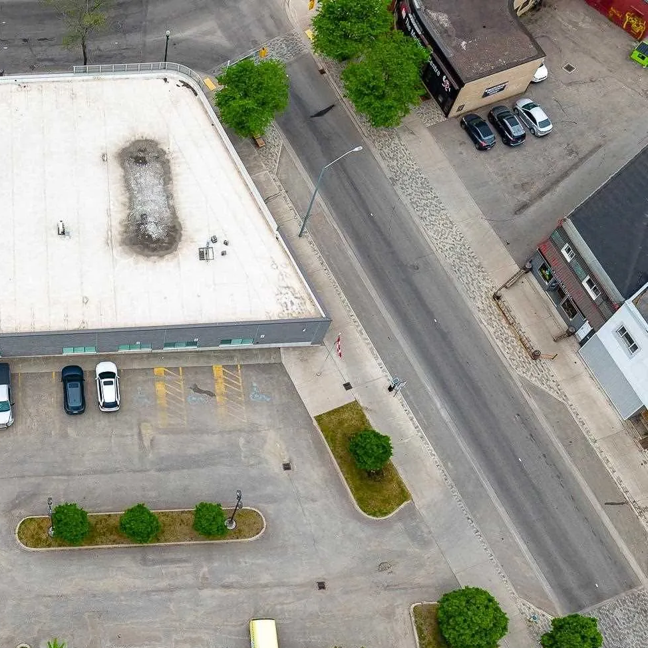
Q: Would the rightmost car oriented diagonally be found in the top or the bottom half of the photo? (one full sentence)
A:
The rightmost car oriented diagonally sits in the top half of the picture.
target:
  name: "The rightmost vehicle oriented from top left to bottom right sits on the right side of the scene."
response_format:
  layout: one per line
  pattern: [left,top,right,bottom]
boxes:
[514,99,554,140]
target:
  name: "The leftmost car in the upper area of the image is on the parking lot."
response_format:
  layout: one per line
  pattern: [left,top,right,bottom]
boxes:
[460,115,497,154]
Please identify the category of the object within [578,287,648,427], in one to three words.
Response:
building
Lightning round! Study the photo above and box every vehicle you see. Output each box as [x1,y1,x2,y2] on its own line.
[59,366,87,418]
[530,38,549,84]
[0,364,14,431]
[249,618,278,648]
[93,362,121,415]
[487,105,527,151]
[460,115,497,154]
[514,99,554,140]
